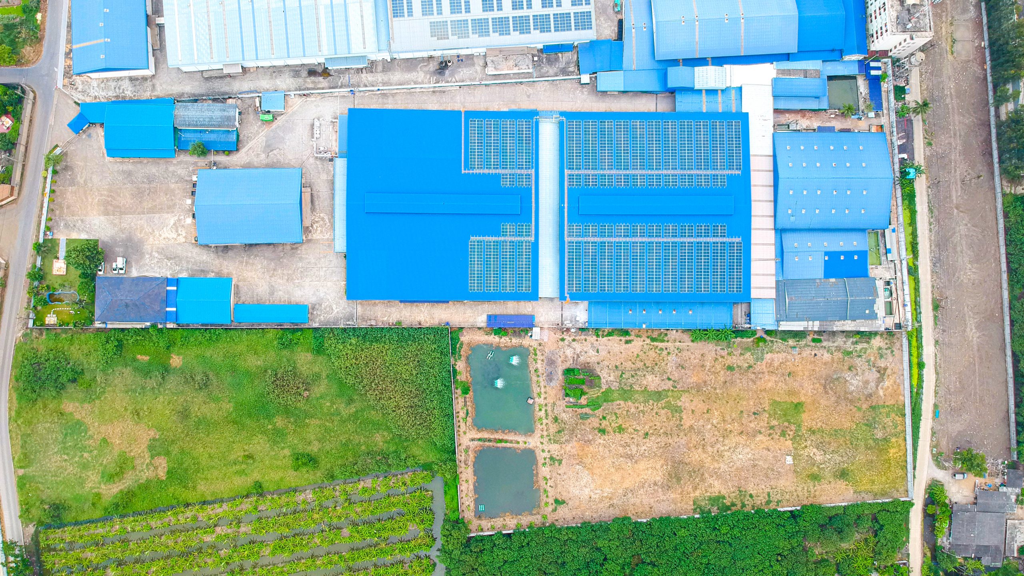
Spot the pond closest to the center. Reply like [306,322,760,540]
[469,344,534,433]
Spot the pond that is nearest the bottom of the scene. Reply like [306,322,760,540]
[473,447,539,517]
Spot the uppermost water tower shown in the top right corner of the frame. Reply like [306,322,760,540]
[895,53,925,77]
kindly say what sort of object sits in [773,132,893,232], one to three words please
shed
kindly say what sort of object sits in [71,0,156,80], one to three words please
building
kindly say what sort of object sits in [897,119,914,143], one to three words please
shed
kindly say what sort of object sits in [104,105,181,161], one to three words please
building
